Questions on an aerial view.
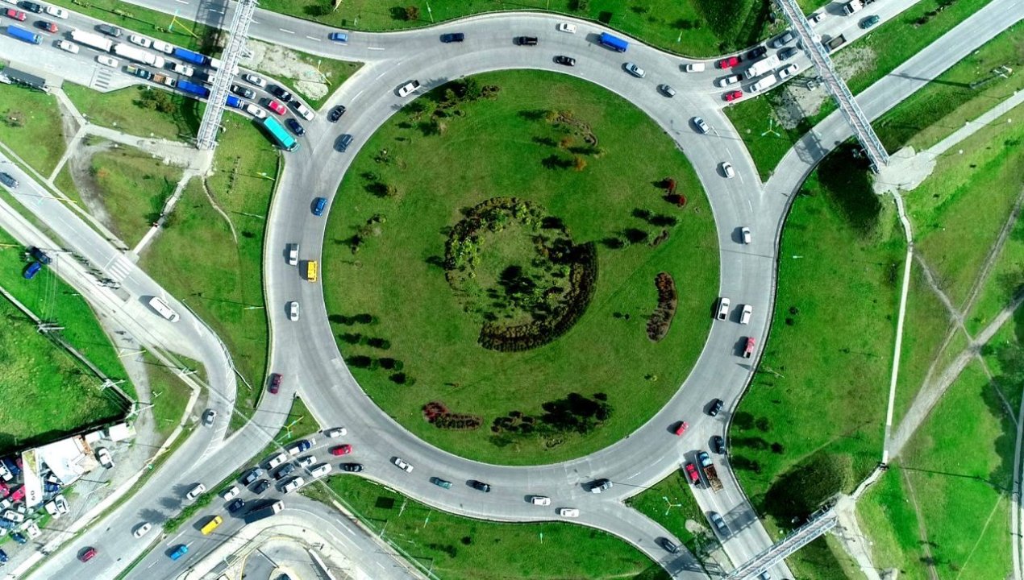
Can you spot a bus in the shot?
Yes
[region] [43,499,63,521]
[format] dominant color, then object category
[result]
white vehicle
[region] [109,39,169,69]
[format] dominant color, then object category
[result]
white truck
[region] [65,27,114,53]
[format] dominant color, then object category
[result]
white bus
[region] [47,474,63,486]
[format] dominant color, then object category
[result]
white vehicle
